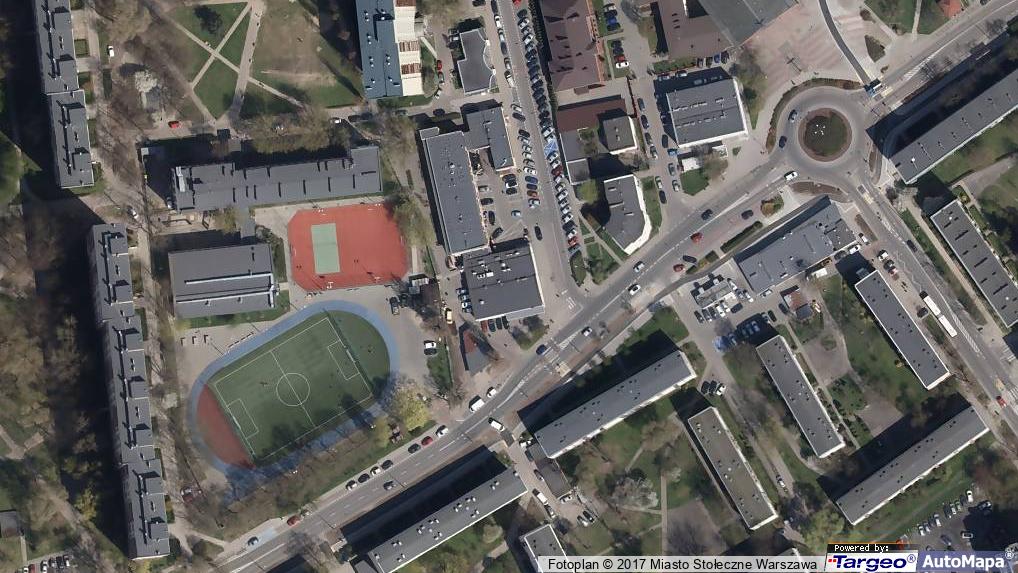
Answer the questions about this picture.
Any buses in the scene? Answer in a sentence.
Yes, a bus appears in the view.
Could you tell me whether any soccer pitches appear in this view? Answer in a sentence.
Yes, a soccer pitch appears in the view.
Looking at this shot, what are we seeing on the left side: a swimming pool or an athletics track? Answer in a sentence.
The feature located on the left side is an athletics track.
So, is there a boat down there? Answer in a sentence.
No, no boat is visible in the view.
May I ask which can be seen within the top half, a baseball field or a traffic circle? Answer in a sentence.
The feature located within the top half is a traffic circle.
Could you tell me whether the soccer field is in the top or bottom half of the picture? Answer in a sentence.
It is in the bottom half that the soccer field appears.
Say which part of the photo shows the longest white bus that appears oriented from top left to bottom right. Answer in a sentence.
The longest white bus that appears oriented from top left to bottom right appears toward the right of the photo.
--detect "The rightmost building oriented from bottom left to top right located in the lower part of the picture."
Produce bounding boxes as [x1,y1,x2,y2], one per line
[836,406,990,528]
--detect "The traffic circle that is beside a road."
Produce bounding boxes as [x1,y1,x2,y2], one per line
[776,86,874,183]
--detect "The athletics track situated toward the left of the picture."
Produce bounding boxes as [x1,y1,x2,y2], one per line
[187,296,402,481]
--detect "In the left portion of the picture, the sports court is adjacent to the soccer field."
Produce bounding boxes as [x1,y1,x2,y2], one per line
[288,203,406,291]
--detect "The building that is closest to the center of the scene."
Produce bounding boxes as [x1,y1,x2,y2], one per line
[462,243,546,322]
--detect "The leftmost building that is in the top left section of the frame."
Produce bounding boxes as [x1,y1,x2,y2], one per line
[33,0,98,193]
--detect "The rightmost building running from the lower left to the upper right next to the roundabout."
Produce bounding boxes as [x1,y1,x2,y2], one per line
[891,71,1018,187]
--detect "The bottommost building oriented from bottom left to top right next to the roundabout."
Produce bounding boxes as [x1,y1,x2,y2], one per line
[739,203,857,297]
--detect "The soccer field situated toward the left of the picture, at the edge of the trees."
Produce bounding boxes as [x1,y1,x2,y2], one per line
[187,296,402,506]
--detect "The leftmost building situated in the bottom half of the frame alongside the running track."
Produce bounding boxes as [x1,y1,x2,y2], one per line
[90,222,175,561]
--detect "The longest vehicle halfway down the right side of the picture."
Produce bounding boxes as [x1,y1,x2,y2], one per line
[921,291,957,337]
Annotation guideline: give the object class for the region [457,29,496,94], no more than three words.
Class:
building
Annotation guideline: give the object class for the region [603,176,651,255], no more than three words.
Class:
house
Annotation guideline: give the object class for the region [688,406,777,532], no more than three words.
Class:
building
